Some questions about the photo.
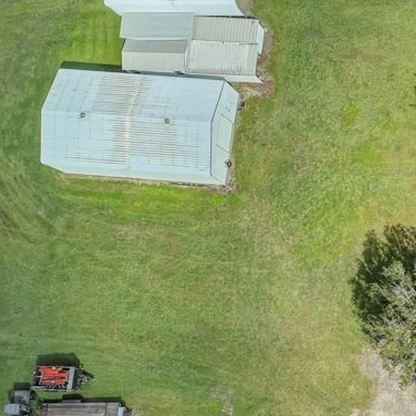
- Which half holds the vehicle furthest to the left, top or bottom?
bottom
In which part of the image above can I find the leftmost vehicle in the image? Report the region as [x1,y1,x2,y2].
[4,385,41,416]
